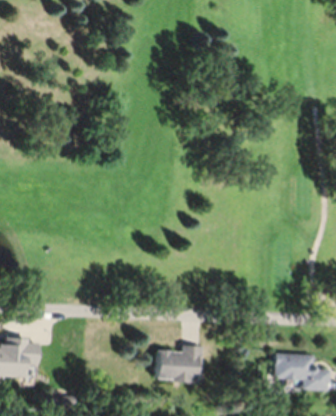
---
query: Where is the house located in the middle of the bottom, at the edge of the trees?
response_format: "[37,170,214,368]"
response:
[156,346,203,384]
